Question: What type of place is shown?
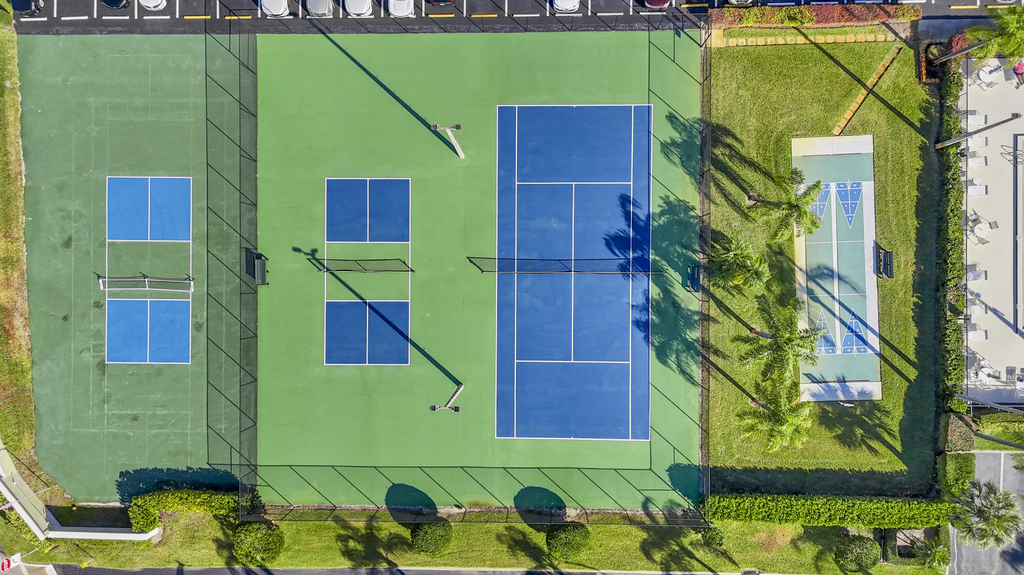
sports ground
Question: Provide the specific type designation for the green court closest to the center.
tennis court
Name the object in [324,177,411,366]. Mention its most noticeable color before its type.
blue sports court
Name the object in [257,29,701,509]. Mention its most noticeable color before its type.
green tennis court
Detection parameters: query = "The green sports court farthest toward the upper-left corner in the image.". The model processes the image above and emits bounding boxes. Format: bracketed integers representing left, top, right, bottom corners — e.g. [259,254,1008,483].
[19,34,257,503]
